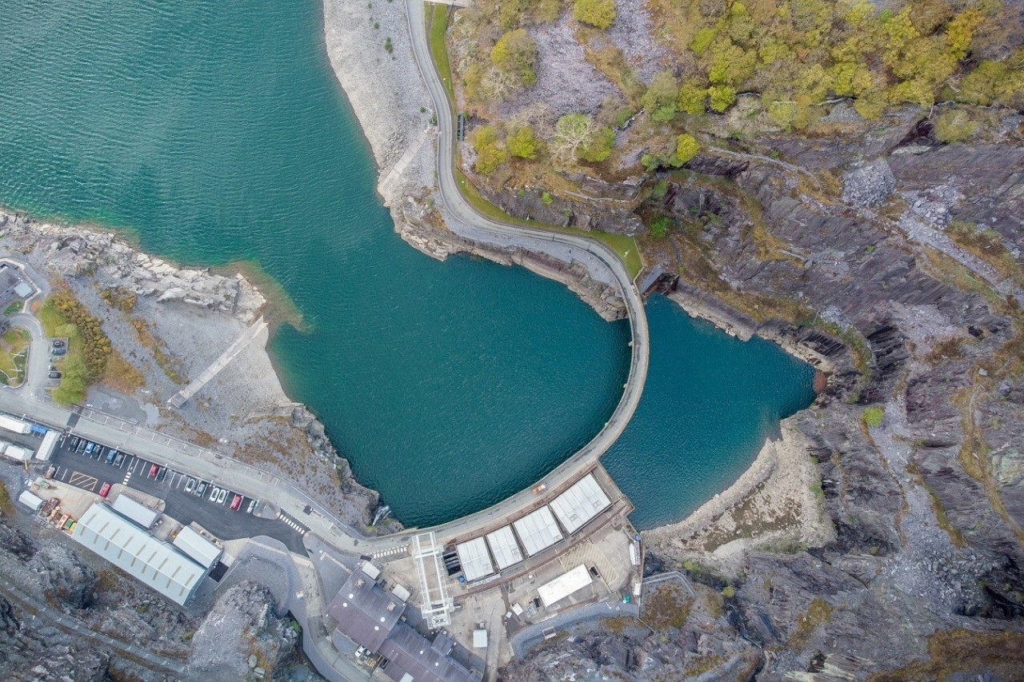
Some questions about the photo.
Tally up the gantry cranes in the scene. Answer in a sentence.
Only 1 gantry crane is visible.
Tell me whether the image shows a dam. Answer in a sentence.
Yes, a dam is visible in the scene.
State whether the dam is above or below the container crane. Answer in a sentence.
The dam is located above the container crane in this view.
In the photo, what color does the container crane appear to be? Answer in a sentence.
In this view, the container crane is white.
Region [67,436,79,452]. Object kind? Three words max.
vehicle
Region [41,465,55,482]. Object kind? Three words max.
vehicle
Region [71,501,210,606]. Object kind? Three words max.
shed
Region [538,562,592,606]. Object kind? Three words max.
building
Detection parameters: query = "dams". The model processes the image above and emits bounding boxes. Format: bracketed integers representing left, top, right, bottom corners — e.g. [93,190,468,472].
[417,289,650,545]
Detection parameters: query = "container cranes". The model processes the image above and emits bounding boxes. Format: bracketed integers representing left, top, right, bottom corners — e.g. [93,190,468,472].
[412,531,462,629]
